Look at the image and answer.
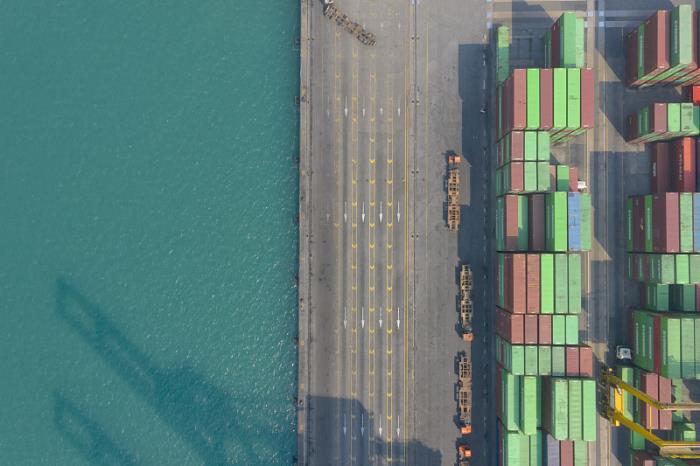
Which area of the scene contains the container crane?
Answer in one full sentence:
The container crane is in the bottom right part of the image.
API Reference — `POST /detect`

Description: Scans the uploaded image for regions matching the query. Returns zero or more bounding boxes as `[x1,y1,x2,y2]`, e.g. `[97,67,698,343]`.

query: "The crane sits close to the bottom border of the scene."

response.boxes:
[599,365,700,460]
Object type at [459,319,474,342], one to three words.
work vehicle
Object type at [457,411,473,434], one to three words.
work vehicle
